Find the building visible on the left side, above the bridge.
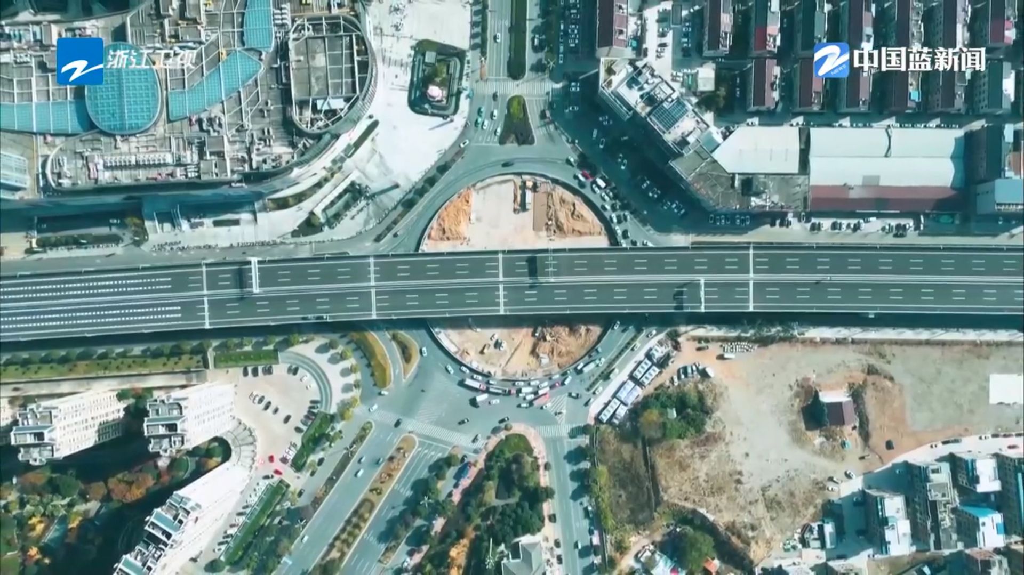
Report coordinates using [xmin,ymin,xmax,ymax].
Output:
[0,0,382,234]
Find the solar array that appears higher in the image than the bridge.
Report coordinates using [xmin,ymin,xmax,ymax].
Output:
[651,100,690,131]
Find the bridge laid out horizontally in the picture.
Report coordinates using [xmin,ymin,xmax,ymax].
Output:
[0,245,1024,342]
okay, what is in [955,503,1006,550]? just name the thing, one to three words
house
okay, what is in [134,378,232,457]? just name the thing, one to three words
building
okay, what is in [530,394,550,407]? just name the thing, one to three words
vehicle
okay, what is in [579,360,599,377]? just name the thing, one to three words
vehicle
